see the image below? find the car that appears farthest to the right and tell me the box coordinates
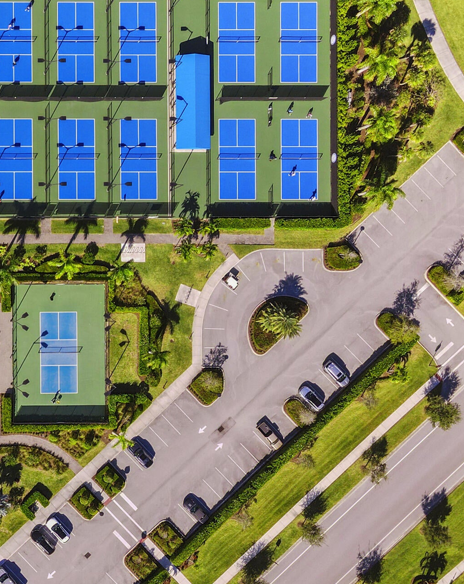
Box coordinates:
[323,357,348,386]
